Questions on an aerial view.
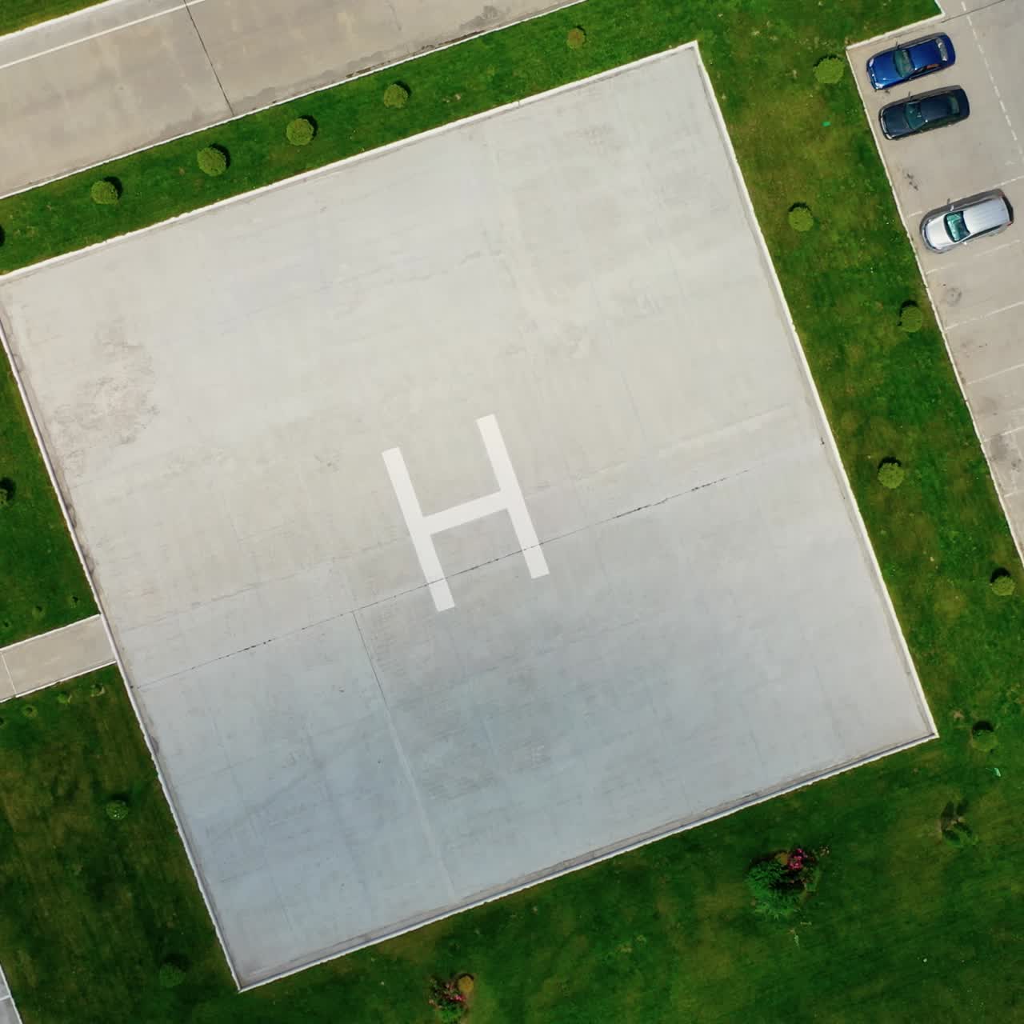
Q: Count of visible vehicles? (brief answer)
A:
3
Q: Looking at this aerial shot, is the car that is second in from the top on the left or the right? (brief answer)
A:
right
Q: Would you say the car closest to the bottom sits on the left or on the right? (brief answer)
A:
right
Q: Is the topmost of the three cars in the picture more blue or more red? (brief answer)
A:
blue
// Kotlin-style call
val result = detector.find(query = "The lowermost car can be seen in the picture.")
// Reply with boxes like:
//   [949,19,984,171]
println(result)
[919,195,1016,252]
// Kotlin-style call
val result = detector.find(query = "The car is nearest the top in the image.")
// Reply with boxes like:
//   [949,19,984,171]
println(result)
[866,36,956,91]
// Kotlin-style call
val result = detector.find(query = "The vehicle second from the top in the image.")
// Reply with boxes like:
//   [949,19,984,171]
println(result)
[877,87,971,142]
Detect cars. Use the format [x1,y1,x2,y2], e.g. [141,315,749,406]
[919,195,1016,252]
[866,36,956,91]
[877,87,971,142]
